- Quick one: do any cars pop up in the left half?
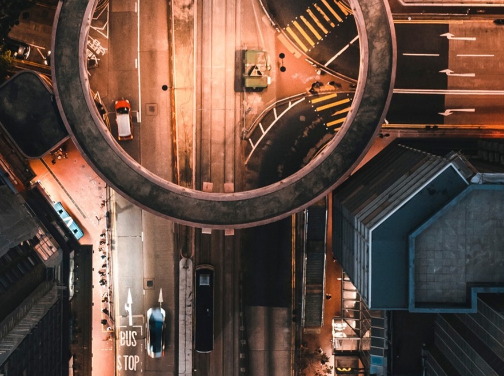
Yes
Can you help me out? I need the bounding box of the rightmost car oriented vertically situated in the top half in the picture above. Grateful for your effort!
[114,97,132,141]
